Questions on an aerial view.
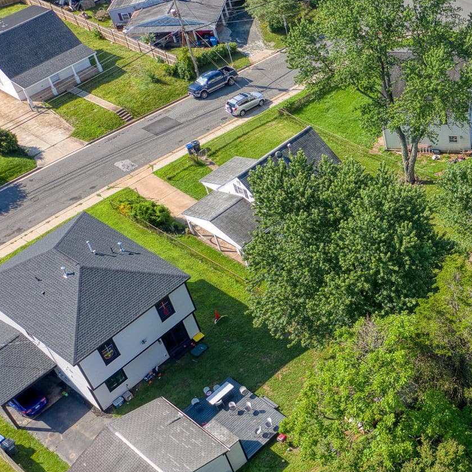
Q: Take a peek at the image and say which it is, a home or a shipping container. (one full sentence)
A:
I can see a home in this picture.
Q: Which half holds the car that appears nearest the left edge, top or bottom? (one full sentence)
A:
The car that appears nearest the left edge sits in the bottom half of the picture.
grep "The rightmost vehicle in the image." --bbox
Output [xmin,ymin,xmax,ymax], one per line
[222,89,267,117]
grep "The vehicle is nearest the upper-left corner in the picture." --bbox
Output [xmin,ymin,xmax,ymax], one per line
[184,64,238,98]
